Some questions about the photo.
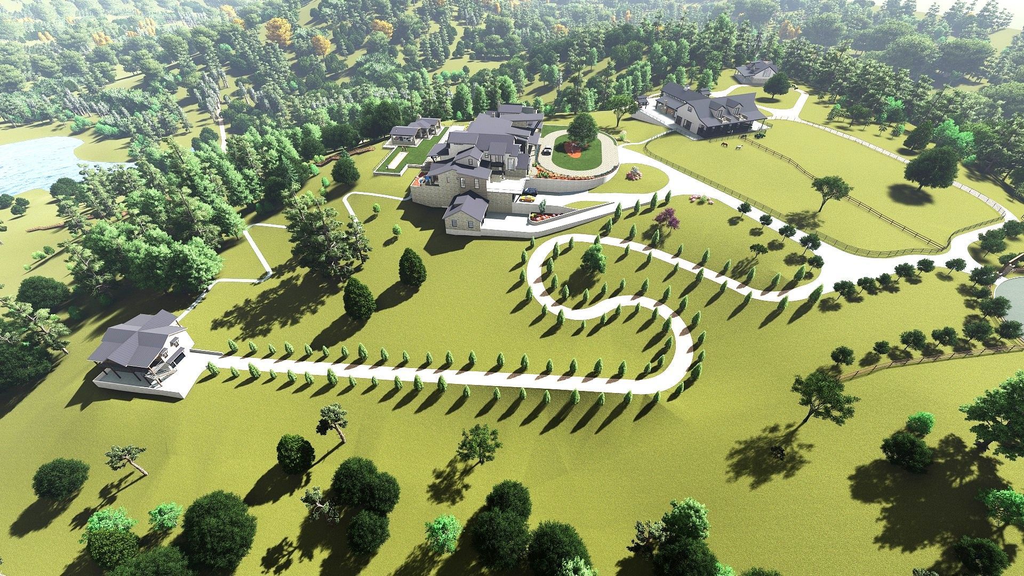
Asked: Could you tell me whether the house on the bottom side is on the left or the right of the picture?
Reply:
left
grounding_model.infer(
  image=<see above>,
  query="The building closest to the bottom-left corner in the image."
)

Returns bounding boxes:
[86,308,195,387]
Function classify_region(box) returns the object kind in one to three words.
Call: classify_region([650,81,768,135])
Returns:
barn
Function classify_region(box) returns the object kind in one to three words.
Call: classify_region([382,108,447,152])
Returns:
building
